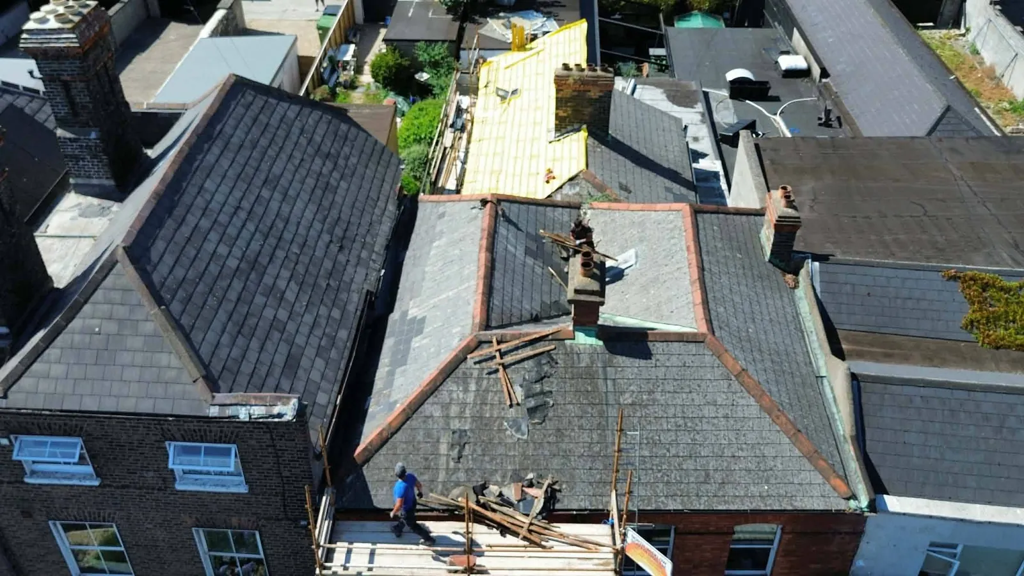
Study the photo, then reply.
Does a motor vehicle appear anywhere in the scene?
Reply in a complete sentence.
No, there's no motor vehicle here.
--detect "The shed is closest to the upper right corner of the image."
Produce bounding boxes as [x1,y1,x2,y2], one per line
[921,0,963,29]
